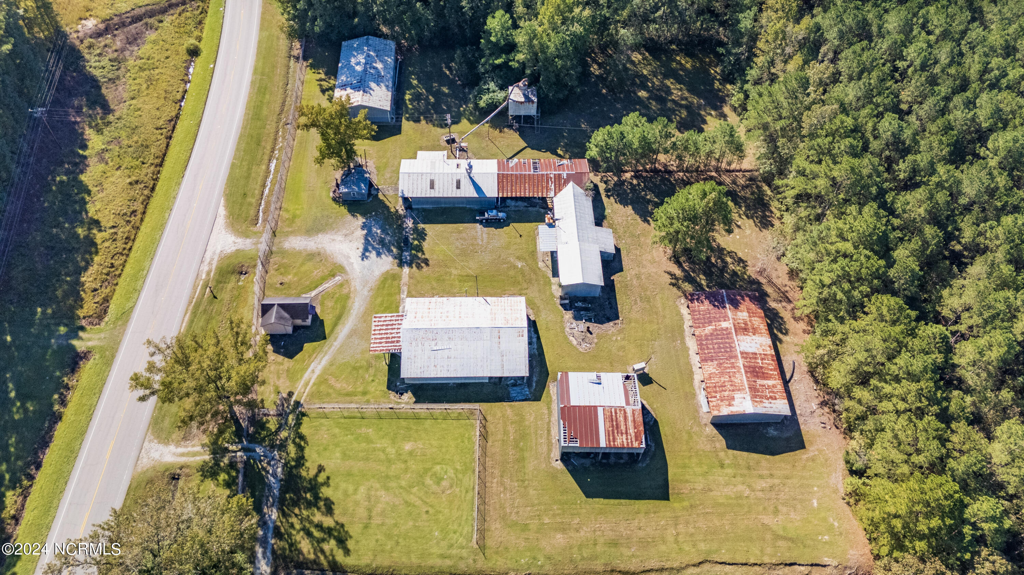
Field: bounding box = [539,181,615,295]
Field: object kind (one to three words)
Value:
building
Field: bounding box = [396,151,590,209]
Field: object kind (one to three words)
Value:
building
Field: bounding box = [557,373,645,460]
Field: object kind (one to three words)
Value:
barn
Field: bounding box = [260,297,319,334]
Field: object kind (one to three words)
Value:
house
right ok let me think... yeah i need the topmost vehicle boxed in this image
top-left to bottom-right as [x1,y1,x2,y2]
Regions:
[475,209,507,222]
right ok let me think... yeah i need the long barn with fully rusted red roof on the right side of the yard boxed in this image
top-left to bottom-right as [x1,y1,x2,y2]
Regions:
[685,290,791,422]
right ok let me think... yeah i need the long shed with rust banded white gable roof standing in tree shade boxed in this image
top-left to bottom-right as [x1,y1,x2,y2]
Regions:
[332,35,401,121]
